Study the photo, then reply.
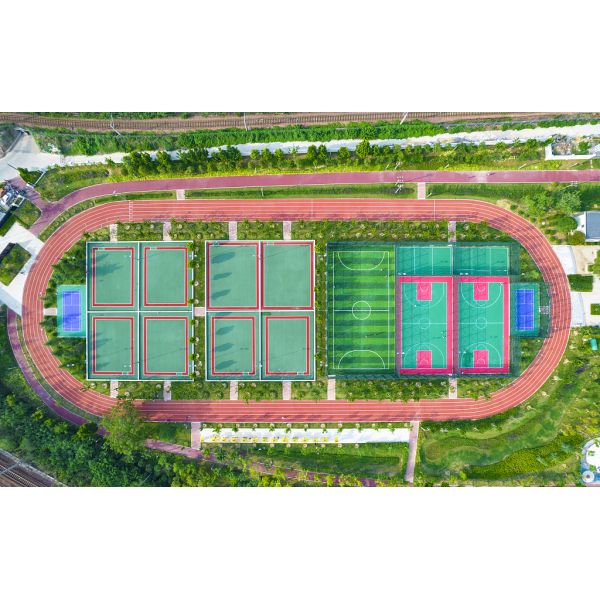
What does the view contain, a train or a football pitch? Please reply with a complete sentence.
The one in the frame is a football pitch.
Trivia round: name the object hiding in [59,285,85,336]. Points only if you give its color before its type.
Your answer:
blue sports court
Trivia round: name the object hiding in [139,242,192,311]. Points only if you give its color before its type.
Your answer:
green sports court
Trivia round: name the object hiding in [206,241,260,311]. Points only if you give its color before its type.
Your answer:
green sports court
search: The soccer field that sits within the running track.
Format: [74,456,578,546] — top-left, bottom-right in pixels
[329,246,394,375]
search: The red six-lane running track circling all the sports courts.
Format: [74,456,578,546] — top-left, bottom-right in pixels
[21,199,572,422]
